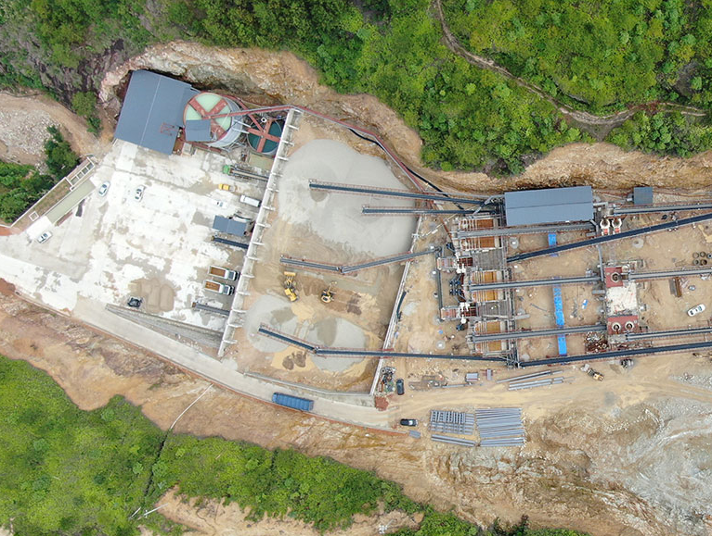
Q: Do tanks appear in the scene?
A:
Yes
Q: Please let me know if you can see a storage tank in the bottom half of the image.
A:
No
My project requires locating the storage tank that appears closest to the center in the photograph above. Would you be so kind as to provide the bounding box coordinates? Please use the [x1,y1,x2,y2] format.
[246,118,285,154]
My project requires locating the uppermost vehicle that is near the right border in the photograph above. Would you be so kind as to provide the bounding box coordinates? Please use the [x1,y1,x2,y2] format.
[687,304,706,317]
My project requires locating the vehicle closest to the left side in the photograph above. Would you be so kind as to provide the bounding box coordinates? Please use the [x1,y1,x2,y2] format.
[34,231,52,245]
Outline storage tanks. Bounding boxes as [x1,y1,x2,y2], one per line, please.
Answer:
[246,118,285,154]
[182,91,244,146]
